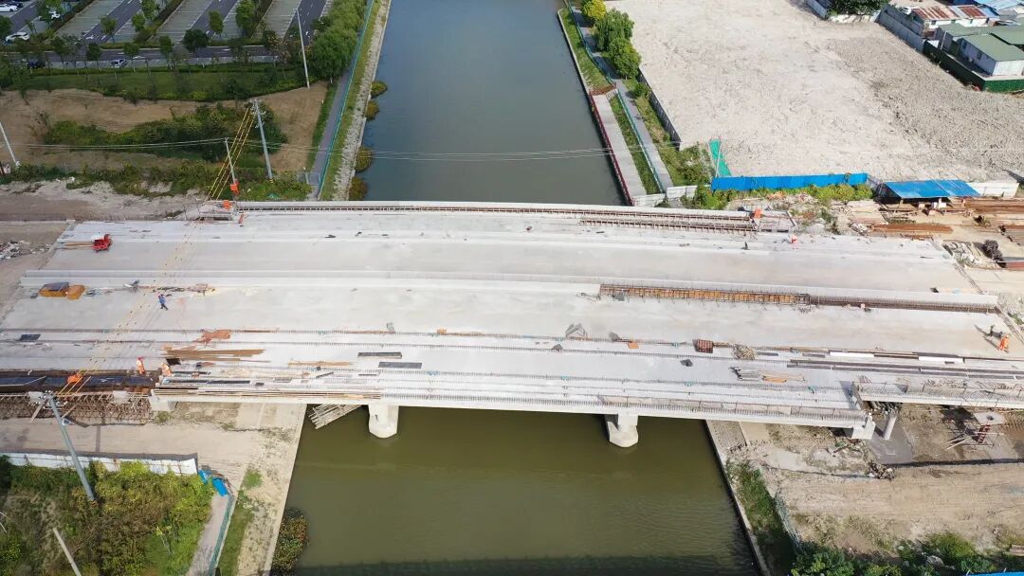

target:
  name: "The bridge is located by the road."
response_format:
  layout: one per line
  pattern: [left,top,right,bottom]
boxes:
[0,197,1024,447]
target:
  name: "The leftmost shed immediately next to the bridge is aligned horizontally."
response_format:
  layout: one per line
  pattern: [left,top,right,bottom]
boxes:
[880,179,981,211]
